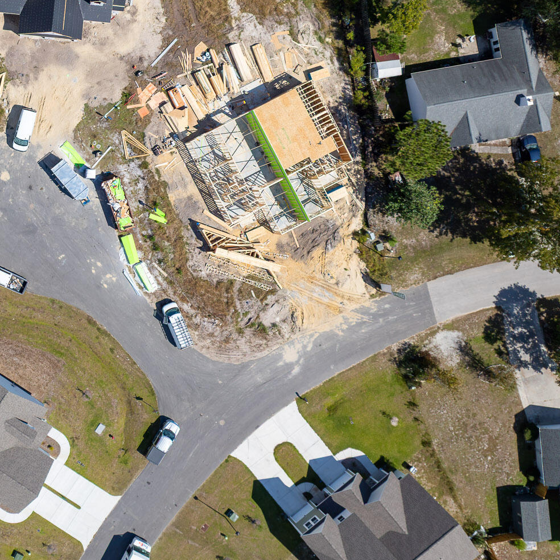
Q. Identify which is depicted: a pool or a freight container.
freight container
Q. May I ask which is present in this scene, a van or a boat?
van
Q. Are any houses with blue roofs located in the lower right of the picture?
No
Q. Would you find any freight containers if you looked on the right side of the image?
No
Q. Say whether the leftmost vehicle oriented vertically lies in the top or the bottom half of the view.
top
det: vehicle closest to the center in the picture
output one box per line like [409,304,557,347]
[162,300,196,351]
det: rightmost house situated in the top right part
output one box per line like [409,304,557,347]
[401,20,553,151]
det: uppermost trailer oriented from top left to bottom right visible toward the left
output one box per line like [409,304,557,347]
[41,151,89,201]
